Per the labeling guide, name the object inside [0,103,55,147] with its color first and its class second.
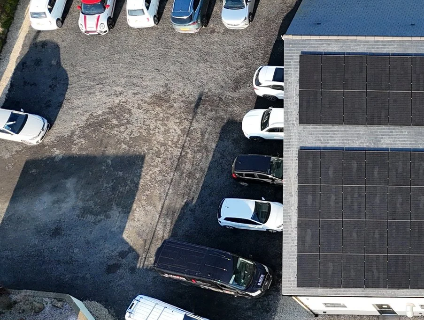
white car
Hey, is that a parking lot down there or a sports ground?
parking lot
